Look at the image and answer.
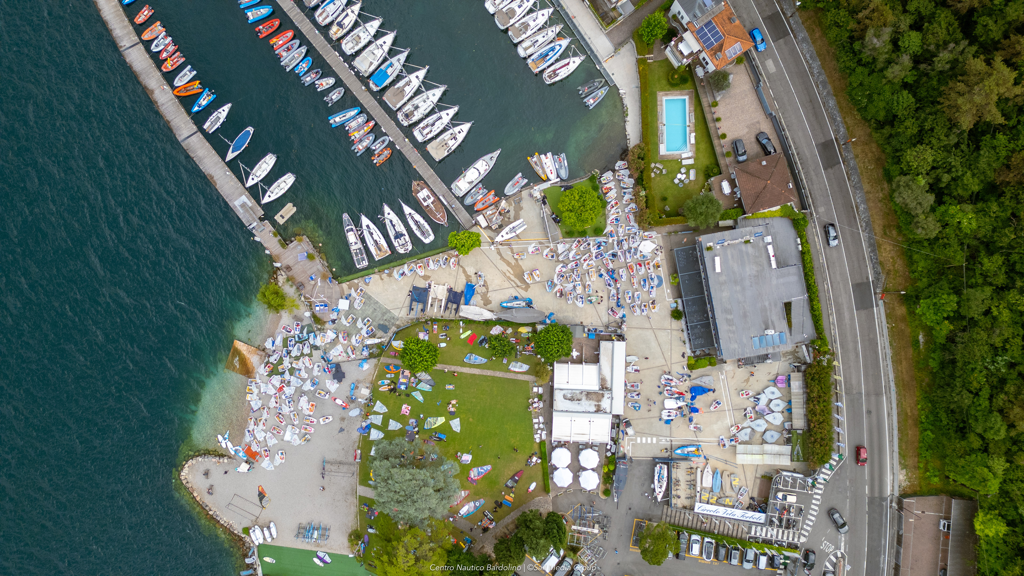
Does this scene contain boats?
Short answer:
Yes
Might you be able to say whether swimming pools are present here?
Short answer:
Yes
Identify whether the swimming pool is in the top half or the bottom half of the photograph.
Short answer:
top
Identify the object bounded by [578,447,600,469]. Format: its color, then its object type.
white umbrella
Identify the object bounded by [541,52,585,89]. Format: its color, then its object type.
white boat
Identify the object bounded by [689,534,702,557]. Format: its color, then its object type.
white vehicle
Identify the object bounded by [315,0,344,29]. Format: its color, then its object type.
white boat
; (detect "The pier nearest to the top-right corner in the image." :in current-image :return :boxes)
[551,0,614,86]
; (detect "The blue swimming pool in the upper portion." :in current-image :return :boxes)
[657,90,695,160]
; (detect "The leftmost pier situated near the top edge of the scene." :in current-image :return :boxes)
[93,0,264,227]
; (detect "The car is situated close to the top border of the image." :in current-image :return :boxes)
[748,27,766,53]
